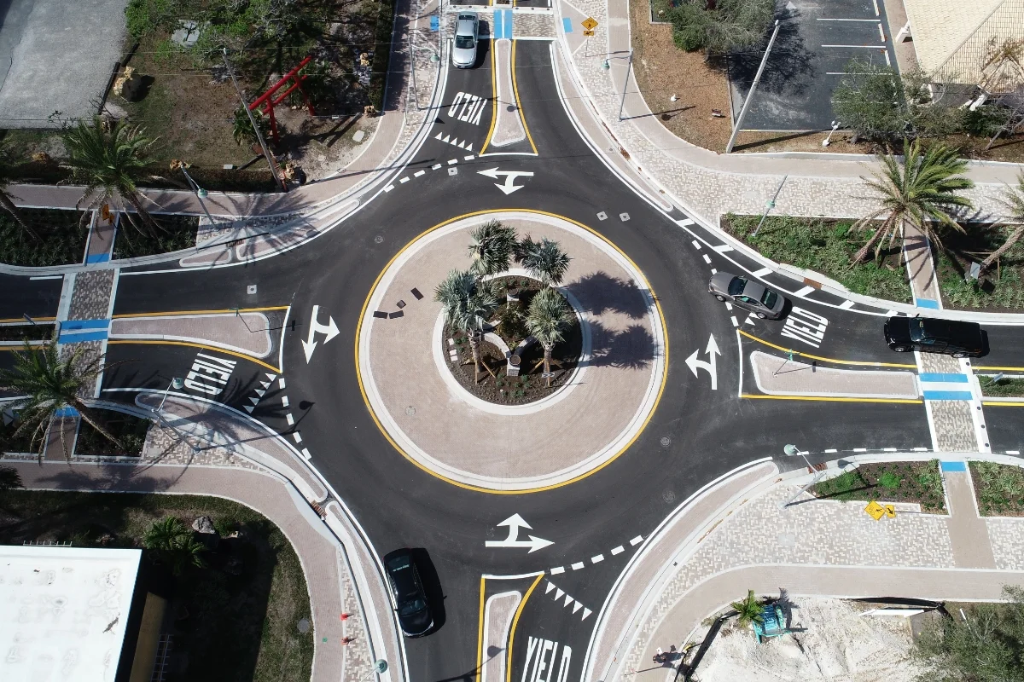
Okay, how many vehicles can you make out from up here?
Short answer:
four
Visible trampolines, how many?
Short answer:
0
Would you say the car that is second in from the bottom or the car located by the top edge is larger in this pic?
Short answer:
the car that is second in from the bottom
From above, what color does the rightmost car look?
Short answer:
black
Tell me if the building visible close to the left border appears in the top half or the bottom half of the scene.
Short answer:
bottom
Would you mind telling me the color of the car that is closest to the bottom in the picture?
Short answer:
black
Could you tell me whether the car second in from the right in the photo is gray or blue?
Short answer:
gray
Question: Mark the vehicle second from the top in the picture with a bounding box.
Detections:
[708,270,788,322]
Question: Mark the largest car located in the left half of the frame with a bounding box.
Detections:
[381,544,435,639]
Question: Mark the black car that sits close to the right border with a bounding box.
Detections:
[882,311,991,360]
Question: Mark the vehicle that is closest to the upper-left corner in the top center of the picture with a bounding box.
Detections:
[449,10,481,65]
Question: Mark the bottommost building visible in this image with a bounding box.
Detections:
[0,547,155,682]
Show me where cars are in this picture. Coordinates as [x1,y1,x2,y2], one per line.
[708,270,788,322]
[449,10,481,65]
[381,544,435,639]
[882,311,991,360]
